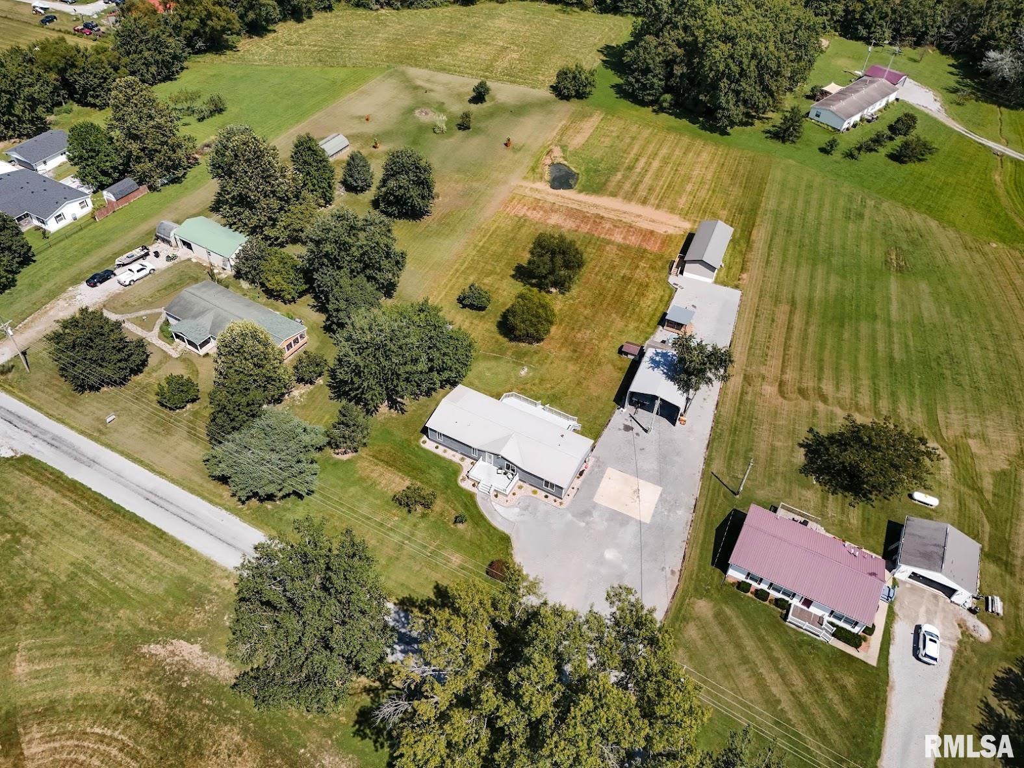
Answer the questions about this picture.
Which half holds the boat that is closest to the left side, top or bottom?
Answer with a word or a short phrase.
top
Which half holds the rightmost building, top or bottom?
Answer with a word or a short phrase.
bottom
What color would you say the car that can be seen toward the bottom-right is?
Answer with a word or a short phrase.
white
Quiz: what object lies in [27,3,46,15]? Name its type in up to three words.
vehicle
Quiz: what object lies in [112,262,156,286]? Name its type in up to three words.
truck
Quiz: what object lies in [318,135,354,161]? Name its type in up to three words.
building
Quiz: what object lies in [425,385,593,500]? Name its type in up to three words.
house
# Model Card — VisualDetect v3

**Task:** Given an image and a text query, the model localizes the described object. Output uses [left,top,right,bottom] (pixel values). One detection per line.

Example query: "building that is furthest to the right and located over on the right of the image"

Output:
[892,516,981,608]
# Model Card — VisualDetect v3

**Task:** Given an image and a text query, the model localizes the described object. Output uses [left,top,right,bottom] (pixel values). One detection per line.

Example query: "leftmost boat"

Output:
[113,239,151,261]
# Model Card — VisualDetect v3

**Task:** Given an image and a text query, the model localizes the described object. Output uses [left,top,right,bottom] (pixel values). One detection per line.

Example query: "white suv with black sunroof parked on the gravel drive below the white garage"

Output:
[916,621,944,666]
